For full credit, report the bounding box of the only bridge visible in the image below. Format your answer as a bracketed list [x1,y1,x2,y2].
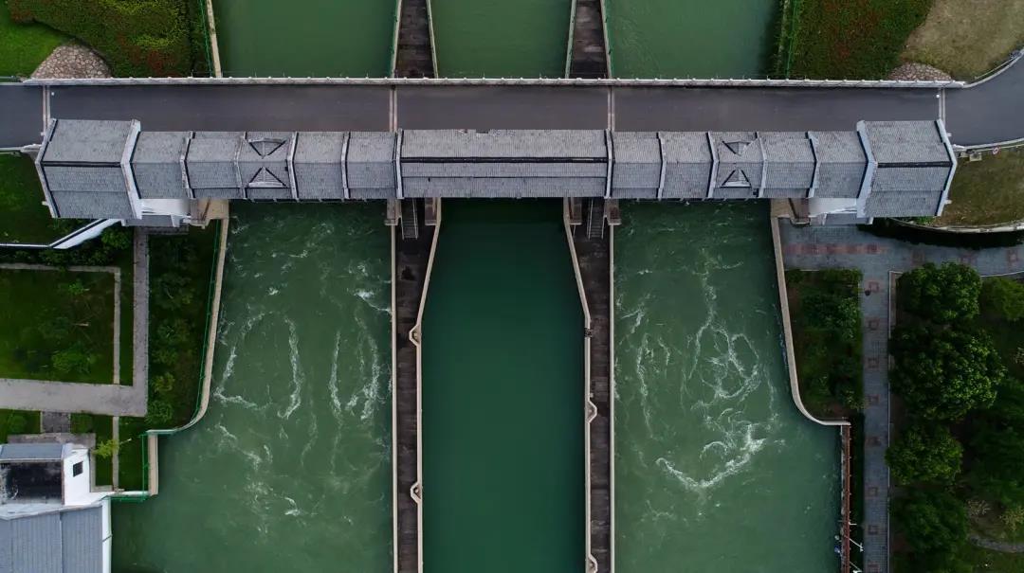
[24,75,964,131]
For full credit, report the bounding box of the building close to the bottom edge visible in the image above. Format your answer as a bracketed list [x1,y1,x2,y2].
[0,443,118,573]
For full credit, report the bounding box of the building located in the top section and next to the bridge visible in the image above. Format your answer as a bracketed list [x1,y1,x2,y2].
[30,118,961,231]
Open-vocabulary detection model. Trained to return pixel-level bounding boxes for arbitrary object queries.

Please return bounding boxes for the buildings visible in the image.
[0,443,118,573]
[30,118,961,231]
